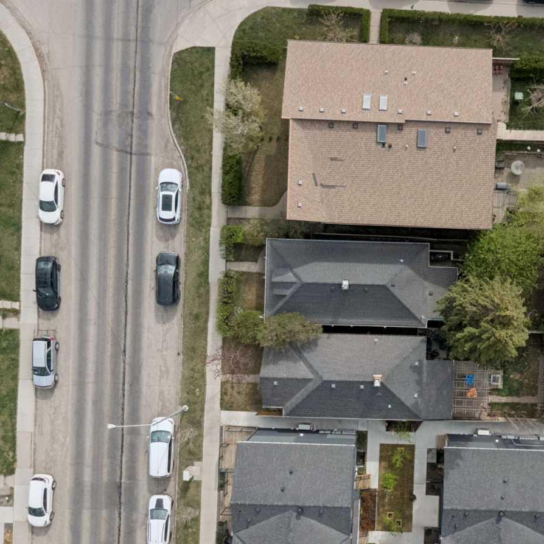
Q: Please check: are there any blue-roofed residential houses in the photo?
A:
No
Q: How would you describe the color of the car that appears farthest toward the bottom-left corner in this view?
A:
white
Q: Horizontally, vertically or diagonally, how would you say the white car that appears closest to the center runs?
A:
vertically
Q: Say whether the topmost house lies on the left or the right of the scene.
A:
right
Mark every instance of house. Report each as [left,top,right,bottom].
[264,238,457,329]
[260,332,453,420]
[438,434,544,544]
[230,428,360,544]
[282,39,496,229]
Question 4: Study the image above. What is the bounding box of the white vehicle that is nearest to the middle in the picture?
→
[154,169,183,225]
